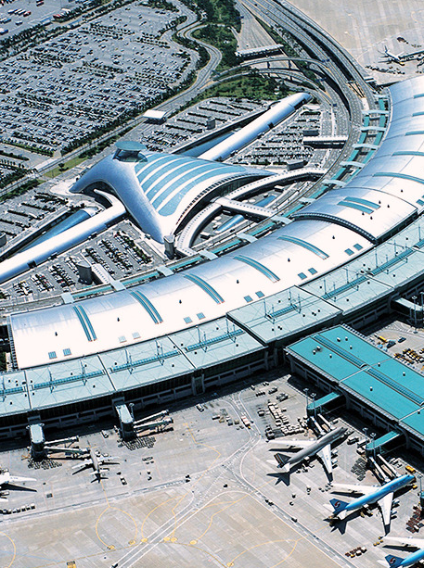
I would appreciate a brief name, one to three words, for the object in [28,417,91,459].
jet bridge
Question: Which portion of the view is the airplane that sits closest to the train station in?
top right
